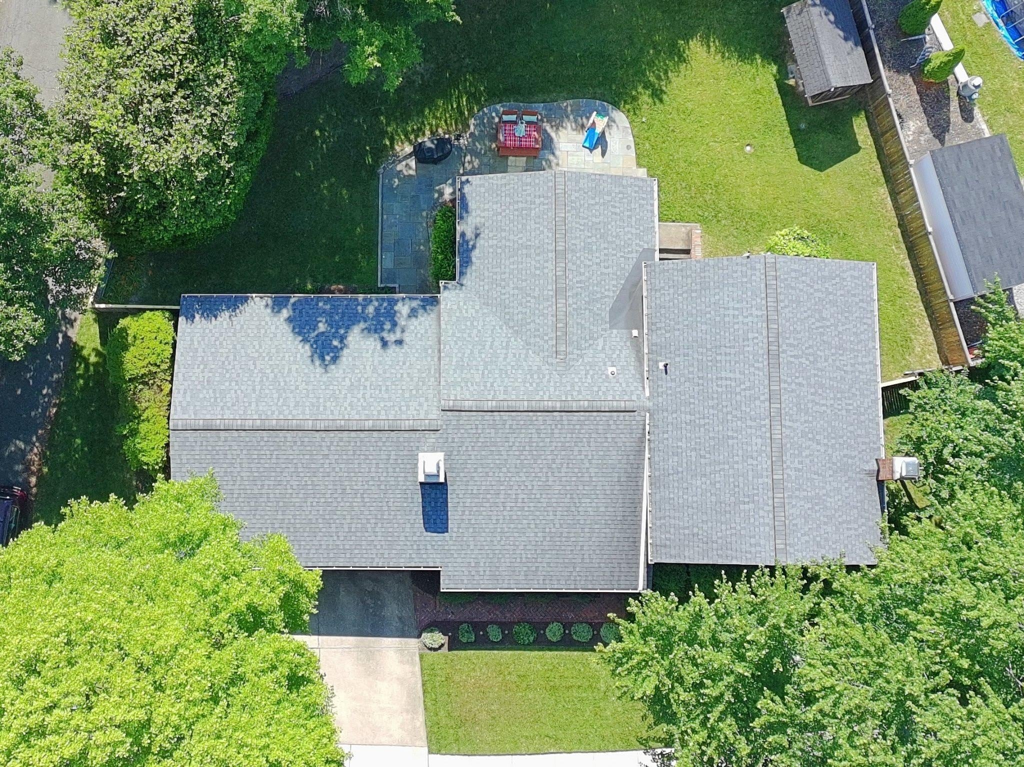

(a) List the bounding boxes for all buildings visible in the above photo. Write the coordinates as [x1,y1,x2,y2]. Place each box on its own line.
[905,127,1024,303]
[166,170,923,595]
[778,0,874,111]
